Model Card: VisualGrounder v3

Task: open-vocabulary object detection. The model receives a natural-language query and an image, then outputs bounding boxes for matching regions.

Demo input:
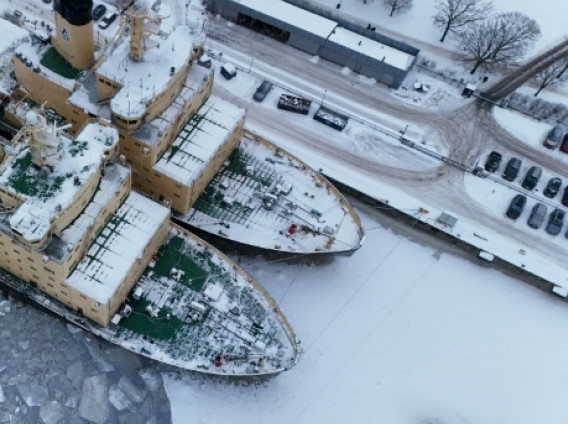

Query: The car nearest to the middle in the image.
[252,82,272,102]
